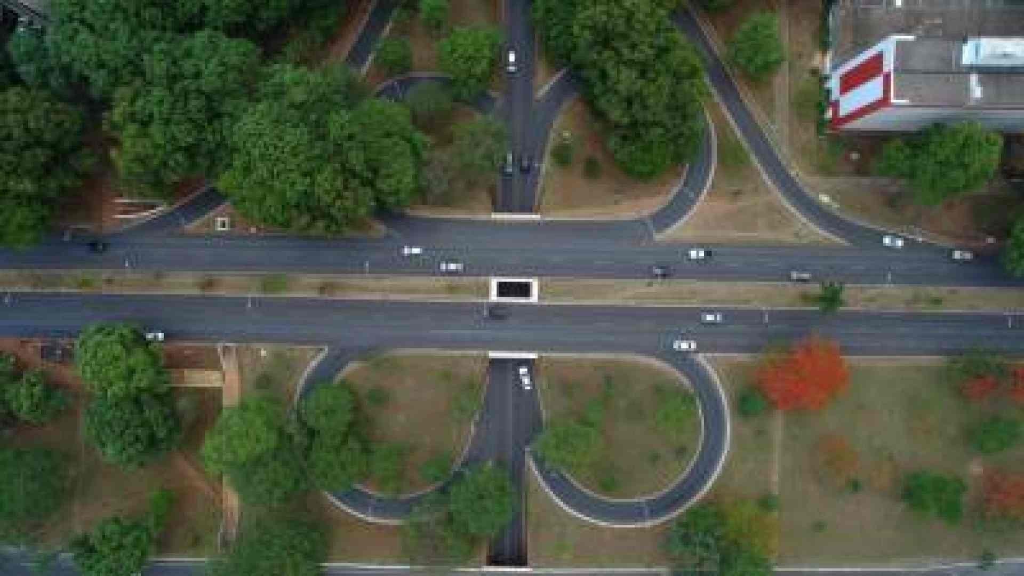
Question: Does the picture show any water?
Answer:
No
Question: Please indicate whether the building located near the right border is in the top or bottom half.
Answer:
top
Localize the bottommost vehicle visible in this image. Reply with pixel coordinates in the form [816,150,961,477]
[519,368,532,389]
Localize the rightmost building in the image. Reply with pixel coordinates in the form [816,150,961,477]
[836,37,1024,130]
